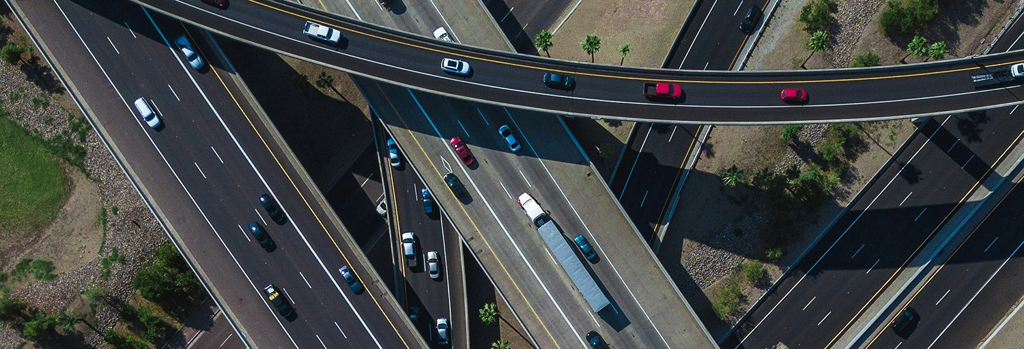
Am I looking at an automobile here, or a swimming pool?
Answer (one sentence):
This aerial view contains an automobile.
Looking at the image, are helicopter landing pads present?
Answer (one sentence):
No, there's no helicopter landing pad here.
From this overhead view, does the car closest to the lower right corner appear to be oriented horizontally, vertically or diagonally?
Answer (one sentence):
In this picture, the car closest to the lower right corner lies diagonally.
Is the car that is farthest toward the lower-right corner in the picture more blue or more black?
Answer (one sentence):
The car that is farthest toward the lower-right corner is black.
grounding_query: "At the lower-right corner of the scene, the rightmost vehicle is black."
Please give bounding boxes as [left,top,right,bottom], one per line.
[888,302,915,331]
